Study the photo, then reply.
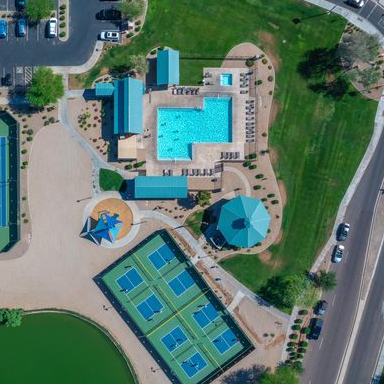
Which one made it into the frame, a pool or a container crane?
pool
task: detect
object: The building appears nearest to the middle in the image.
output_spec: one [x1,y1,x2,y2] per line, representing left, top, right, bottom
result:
[135,176,189,198]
